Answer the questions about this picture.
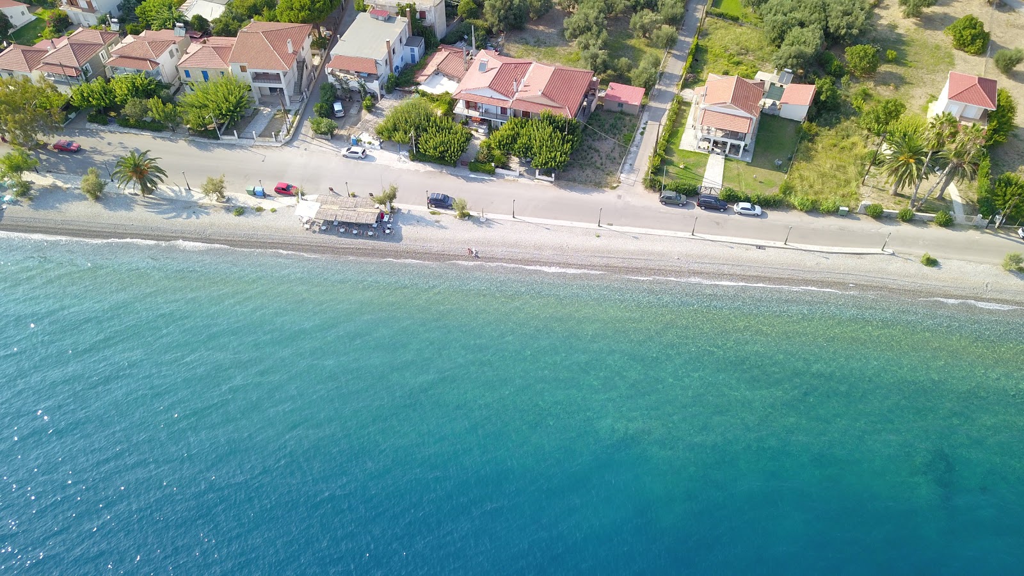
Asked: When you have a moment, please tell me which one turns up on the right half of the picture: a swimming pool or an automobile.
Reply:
automobile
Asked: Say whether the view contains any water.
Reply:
Yes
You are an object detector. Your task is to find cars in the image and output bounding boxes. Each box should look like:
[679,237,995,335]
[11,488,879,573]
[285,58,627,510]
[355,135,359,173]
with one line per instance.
[332,100,344,114]
[698,194,728,212]
[341,146,366,159]
[54,138,81,152]
[1016,229,1024,239]
[658,190,686,207]
[428,192,455,209]
[733,201,763,216]
[273,181,295,195]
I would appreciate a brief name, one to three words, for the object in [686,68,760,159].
house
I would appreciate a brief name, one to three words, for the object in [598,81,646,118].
shed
